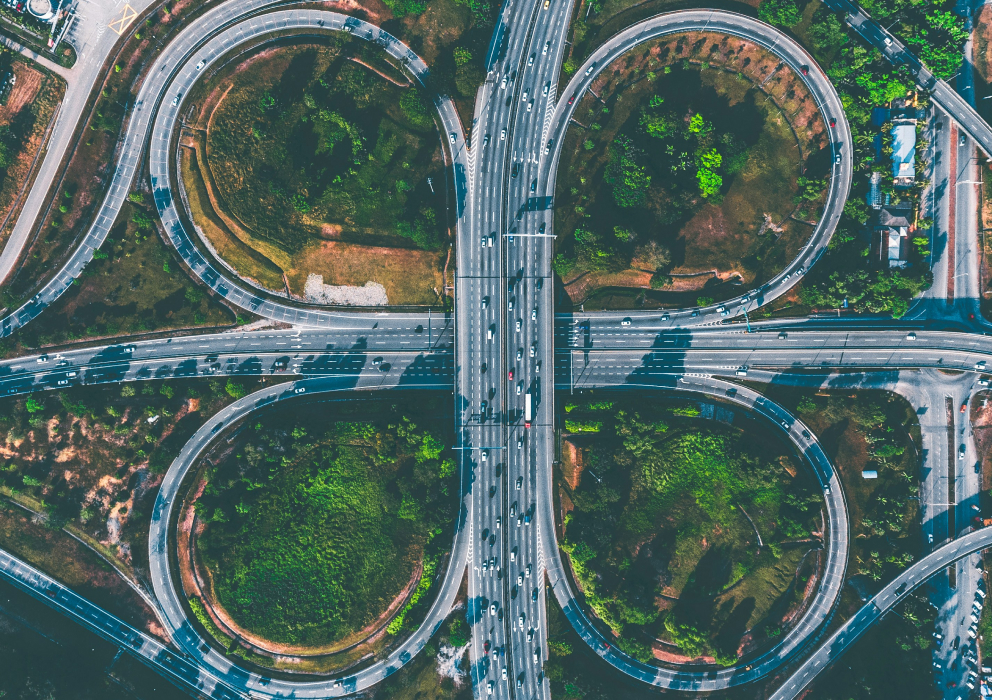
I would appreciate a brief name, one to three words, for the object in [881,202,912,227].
building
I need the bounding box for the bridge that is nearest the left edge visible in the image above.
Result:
[455,0,574,700]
